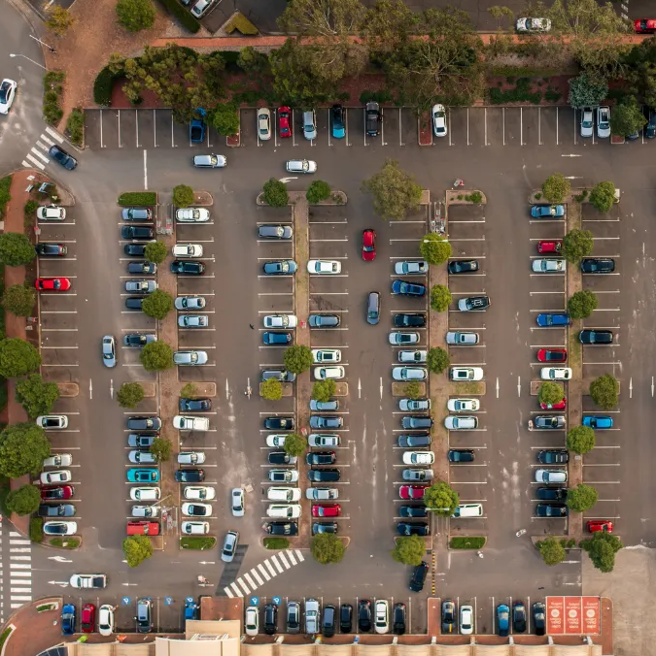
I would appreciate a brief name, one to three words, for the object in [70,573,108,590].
vehicle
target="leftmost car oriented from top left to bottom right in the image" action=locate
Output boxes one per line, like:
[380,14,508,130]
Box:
[46,141,79,171]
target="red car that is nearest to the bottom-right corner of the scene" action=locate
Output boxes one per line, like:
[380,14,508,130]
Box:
[585,519,613,533]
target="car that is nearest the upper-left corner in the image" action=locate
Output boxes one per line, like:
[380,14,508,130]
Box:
[0,77,17,115]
